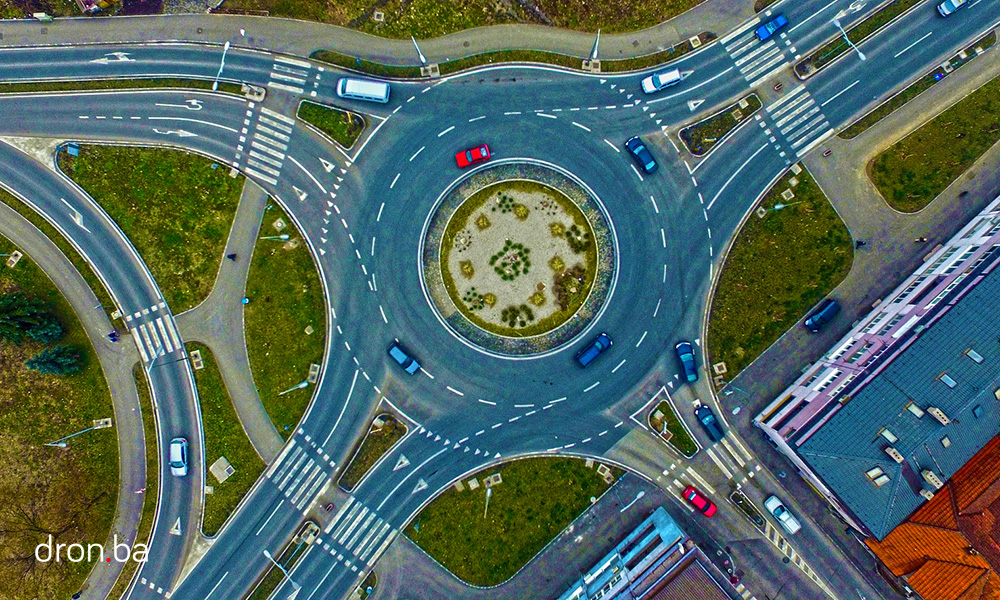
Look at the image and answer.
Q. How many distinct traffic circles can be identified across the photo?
1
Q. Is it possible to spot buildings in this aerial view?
Yes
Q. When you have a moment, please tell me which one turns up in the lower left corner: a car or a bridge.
car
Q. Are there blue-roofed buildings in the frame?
Yes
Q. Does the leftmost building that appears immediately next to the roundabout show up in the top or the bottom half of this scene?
bottom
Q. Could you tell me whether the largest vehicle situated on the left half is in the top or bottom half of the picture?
top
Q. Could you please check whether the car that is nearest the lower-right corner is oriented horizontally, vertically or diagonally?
diagonally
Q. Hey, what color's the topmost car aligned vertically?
blue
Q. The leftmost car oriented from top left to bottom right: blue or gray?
blue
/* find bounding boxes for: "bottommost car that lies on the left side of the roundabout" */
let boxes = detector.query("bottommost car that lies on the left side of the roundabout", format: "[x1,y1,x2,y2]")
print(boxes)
[168,436,190,476]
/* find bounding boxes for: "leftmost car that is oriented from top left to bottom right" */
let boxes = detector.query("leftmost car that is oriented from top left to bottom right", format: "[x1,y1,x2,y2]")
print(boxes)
[387,342,421,374]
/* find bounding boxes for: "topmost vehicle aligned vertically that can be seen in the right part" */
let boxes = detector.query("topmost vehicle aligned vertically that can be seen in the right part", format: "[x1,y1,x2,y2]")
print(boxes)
[675,341,699,383]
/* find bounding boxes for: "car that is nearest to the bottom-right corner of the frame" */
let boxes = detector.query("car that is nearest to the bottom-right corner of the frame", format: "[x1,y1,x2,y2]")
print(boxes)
[763,493,803,537]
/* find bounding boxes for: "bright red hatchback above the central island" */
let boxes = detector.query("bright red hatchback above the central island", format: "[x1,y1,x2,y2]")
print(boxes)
[456,145,490,168]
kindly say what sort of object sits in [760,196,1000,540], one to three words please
building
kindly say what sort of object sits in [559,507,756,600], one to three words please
building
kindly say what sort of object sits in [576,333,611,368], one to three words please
car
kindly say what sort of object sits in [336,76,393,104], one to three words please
vehicle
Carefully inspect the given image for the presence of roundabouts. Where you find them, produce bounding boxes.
[306,64,756,483]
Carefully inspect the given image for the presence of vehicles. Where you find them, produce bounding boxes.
[694,404,726,443]
[763,493,803,537]
[625,136,659,175]
[168,436,190,476]
[675,341,699,383]
[681,484,718,518]
[456,145,490,168]
[387,342,421,374]
[754,11,790,41]
[576,333,611,368]
[336,76,393,104]
[935,0,974,19]
[641,67,683,96]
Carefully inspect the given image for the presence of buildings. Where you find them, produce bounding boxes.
[760,196,1000,540]
[559,507,756,600]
